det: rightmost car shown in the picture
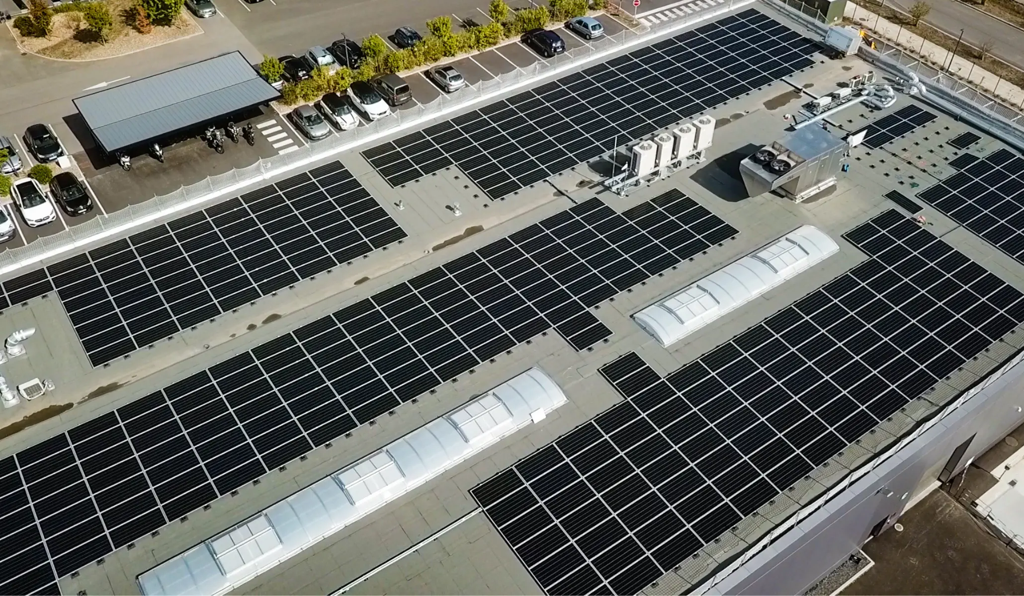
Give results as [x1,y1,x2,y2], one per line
[565,13,605,39]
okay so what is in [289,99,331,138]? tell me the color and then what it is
gray car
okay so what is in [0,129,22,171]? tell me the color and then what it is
gray car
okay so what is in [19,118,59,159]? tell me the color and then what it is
black car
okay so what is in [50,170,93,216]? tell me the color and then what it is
black car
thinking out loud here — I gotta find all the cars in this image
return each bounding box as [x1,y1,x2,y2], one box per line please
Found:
[346,80,389,119]
[275,46,312,81]
[426,62,466,91]
[0,129,22,171]
[371,69,414,106]
[9,176,55,228]
[289,99,331,138]
[565,13,605,39]
[50,170,93,216]
[520,27,563,56]
[303,39,341,68]
[186,0,220,20]
[19,118,59,159]
[328,29,368,64]
[320,92,359,128]
[0,203,16,243]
